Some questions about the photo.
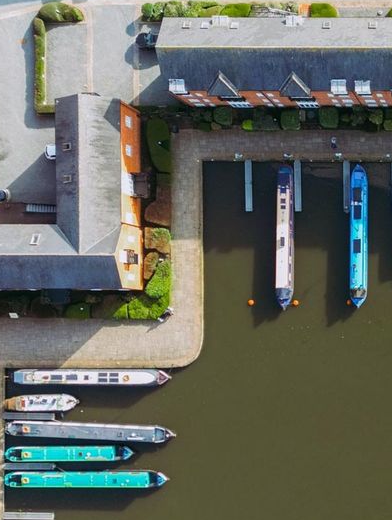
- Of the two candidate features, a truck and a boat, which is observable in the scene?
boat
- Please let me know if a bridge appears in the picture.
No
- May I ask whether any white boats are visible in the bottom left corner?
Yes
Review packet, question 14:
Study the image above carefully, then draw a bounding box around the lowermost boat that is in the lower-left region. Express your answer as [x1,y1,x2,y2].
[1,469,170,488]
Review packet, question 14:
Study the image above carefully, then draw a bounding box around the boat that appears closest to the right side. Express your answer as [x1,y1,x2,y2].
[349,163,368,310]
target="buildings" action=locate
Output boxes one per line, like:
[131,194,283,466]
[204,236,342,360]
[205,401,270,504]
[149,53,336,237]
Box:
[0,90,154,304]
[157,16,392,111]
